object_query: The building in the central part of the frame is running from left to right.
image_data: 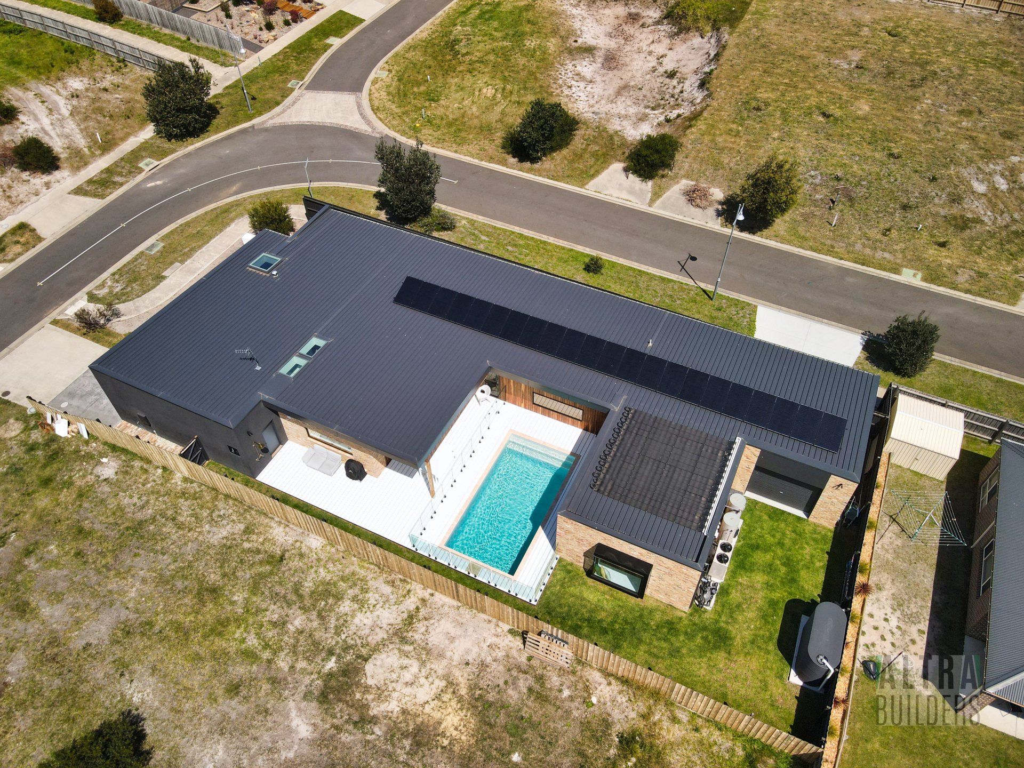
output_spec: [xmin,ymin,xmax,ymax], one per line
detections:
[89,205,881,612]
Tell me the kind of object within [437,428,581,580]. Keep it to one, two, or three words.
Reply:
swimming pool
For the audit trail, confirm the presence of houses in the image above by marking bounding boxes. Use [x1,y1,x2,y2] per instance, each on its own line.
[955,433,1024,719]
[89,205,881,612]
